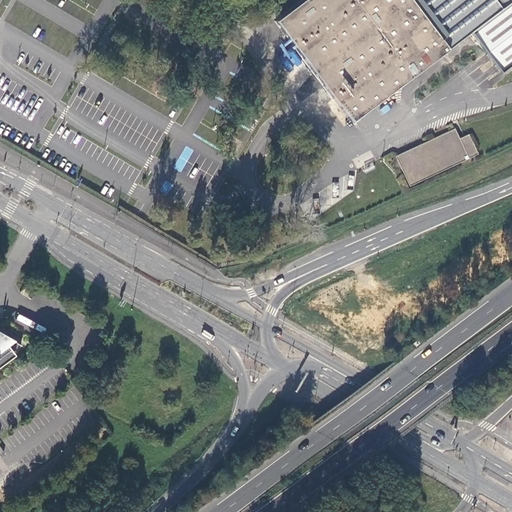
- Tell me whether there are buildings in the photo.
Yes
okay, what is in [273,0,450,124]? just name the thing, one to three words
building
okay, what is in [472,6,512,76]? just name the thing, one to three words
building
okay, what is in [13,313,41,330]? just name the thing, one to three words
vehicle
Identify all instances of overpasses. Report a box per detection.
[319,352,445,469]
